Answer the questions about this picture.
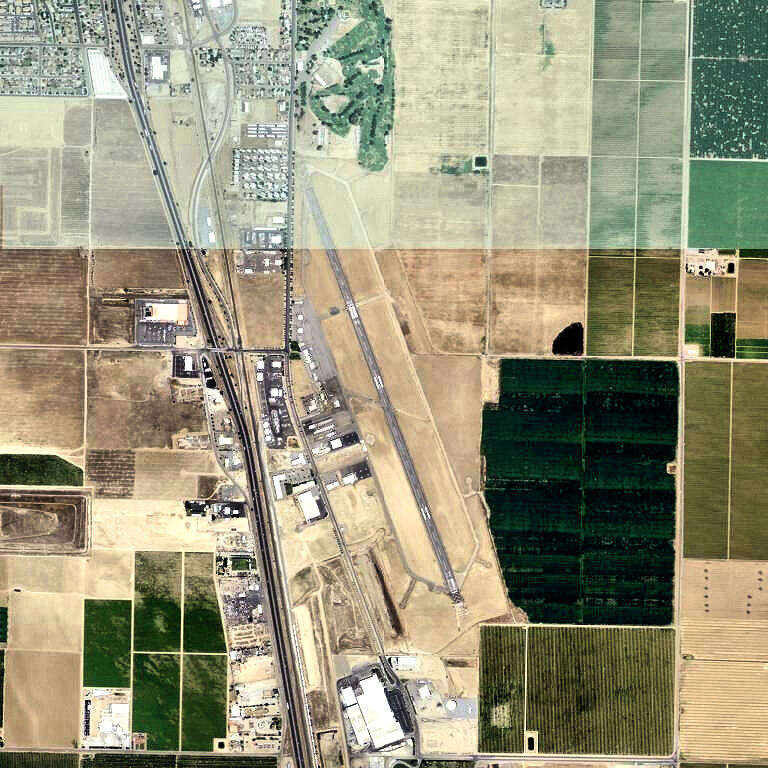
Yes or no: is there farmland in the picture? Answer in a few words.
Yes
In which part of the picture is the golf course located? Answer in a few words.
top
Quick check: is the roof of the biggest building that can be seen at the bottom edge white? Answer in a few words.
Yes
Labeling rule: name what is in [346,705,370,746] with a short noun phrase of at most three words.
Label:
building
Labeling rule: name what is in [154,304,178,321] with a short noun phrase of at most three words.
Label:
building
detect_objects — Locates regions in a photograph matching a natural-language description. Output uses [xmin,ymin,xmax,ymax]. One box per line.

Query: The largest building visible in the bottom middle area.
[358,675,405,748]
